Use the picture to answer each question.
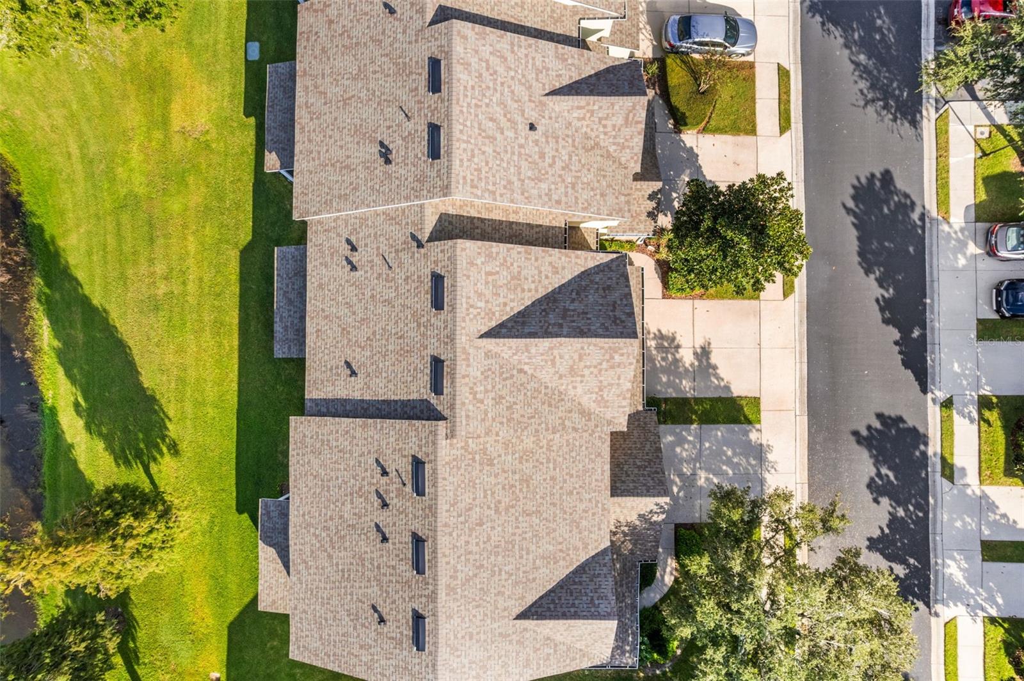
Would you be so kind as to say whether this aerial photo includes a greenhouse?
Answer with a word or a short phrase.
No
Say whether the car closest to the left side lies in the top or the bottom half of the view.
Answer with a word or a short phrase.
top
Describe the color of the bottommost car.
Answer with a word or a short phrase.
black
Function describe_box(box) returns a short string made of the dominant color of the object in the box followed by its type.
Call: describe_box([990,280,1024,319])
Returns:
black car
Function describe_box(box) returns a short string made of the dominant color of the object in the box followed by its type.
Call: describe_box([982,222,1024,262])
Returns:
gray car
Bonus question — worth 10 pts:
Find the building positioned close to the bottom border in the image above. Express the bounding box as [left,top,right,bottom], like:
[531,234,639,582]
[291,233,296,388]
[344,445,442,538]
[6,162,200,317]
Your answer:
[257,411,668,681]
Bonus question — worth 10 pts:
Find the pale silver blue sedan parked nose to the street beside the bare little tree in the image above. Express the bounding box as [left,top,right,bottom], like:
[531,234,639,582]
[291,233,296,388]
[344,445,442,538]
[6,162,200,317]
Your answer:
[662,11,757,59]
